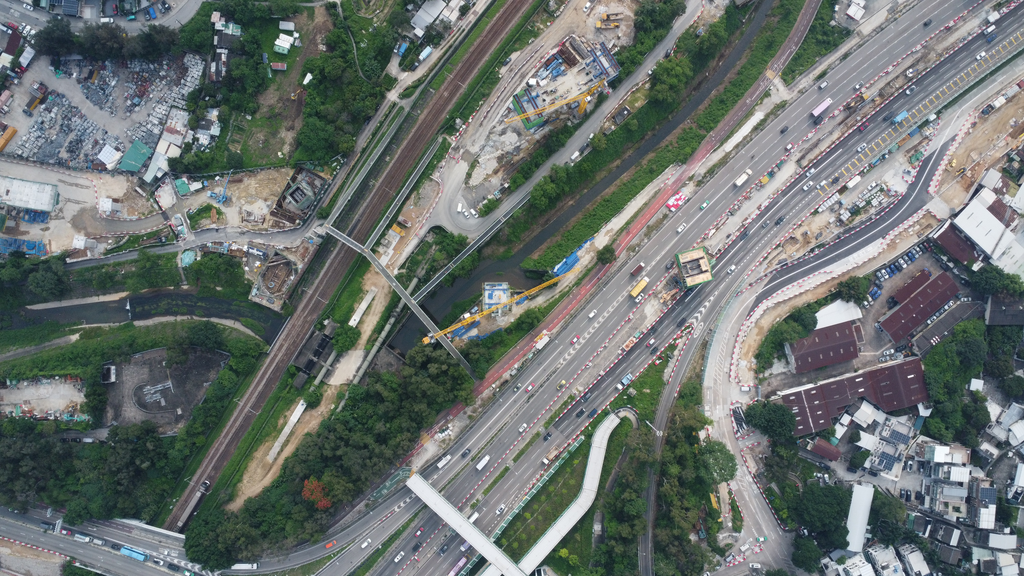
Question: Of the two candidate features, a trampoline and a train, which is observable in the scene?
train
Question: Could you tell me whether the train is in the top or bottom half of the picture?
bottom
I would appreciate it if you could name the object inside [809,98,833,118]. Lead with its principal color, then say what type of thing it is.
white vehicle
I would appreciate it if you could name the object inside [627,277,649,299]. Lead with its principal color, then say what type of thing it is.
yellow truck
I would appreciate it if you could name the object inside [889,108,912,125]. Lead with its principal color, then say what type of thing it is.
blue vehicle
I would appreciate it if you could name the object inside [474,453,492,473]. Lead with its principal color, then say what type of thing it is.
white vehicle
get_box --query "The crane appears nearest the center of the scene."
[423,268,580,346]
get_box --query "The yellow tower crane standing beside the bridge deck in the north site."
[504,80,607,123]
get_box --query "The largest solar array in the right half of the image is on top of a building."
[980,488,998,505]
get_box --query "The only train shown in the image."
[170,482,210,539]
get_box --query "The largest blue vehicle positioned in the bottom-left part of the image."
[118,546,151,563]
